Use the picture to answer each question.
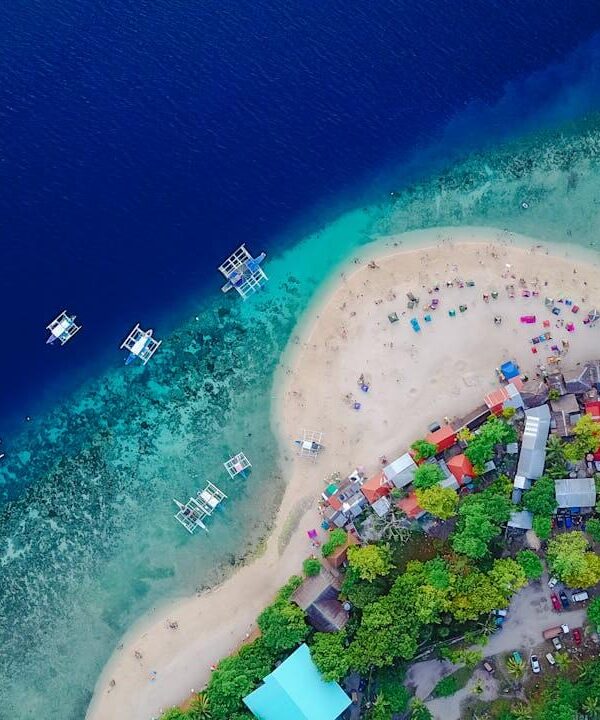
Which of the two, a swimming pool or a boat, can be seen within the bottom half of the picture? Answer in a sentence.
There is a boat within the bottom half of the picture.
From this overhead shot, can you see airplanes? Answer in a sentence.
No, no airplane is visible in the scene.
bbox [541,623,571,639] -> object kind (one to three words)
vehicle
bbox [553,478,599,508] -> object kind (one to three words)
shed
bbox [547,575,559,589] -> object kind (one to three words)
vehicle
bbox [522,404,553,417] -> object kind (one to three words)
house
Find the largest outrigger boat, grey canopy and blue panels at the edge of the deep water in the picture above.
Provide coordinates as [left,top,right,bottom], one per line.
[217,245,270,300]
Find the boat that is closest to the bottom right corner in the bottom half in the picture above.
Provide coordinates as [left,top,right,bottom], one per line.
[289,430,324,460]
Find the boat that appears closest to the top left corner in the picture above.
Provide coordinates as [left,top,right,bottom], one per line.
[44,313,78,349]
